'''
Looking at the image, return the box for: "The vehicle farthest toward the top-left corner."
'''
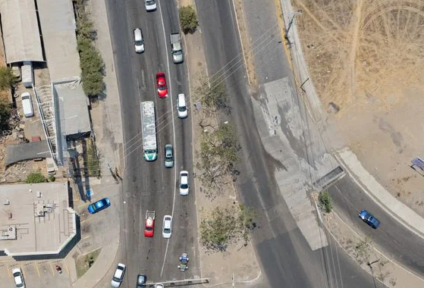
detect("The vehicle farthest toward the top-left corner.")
[21,60,34,91]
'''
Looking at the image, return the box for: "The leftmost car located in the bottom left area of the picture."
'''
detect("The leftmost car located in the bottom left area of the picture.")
[12,267,25,288]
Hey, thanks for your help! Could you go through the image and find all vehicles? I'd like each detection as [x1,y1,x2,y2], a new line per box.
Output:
[134,27,144,53]
[135,274,147,288]
[21,94,34,119]
[156,72,168,97]
[144,210,154,237]
[176,94,187,119]
[86,198,111,213]
[179,171,189,196]
[21,60,34,91]
[111,262,126,288]
[165,145,174,168]
[12,267,25,288]
[142,98,159,162]
[162,215,173,238]
[144,0,155,11]
[155,282,163,288]
[358,211,381,229]
[171,32,182,63]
